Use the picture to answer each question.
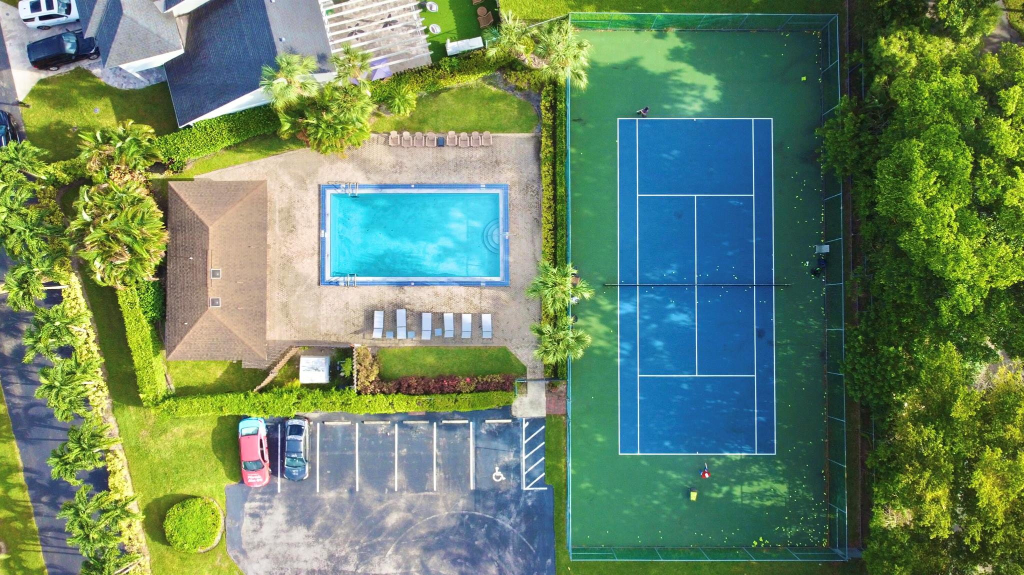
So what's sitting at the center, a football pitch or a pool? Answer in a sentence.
It is a pool that can be seen at the center.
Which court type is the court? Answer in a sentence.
In the photo, the court shows up as a tennis court.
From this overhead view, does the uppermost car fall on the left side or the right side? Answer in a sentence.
You can find the uppermost car on the left side of the picture.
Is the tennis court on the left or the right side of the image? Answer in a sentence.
You can find the tennis court on the right side of the picture.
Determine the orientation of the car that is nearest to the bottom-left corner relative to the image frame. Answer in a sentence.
The car that is nearest to the bottom-left corner is laid out vertically.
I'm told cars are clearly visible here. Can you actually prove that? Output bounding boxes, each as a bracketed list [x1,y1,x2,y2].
[279,417,313,484]
[11,0,86,33]
[237,418,272,488]
[24,29,101,71]
[0,100,21,145]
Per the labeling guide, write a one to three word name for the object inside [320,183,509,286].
swimming pool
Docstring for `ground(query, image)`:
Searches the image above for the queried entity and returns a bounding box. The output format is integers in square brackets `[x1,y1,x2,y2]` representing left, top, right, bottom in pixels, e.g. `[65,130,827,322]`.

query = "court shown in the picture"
[567,30,829,547]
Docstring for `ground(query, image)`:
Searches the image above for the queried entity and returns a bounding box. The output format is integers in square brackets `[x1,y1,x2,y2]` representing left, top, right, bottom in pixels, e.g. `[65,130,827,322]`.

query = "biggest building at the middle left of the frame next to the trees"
[164,179,269,362]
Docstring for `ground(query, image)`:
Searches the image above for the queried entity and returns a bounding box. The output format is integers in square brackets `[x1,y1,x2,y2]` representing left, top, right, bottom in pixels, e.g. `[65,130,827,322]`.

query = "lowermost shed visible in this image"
[300,355,335,384]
